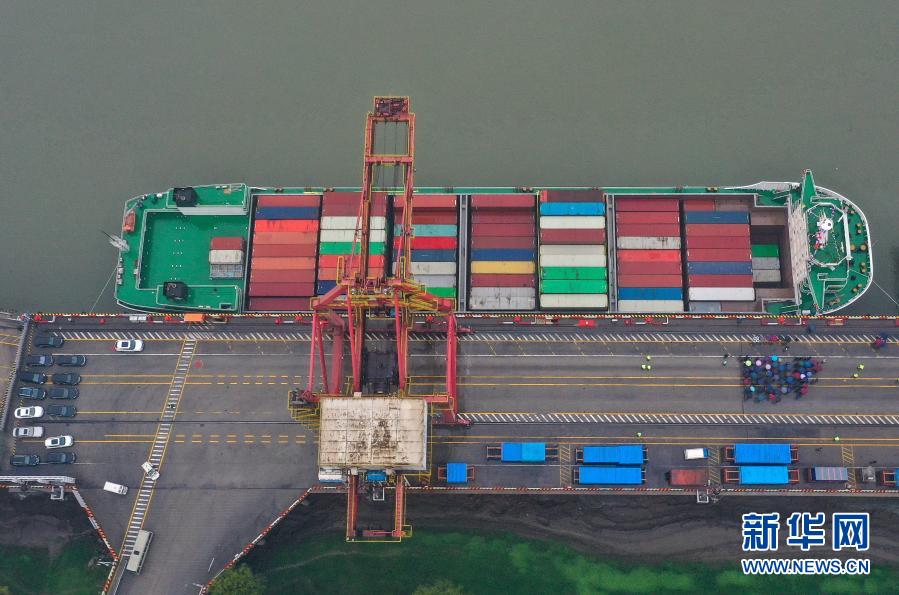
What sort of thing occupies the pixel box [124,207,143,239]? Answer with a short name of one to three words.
boat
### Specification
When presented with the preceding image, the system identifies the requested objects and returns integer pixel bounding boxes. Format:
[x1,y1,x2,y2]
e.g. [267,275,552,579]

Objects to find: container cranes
[287,96,476,541]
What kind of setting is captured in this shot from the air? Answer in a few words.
port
